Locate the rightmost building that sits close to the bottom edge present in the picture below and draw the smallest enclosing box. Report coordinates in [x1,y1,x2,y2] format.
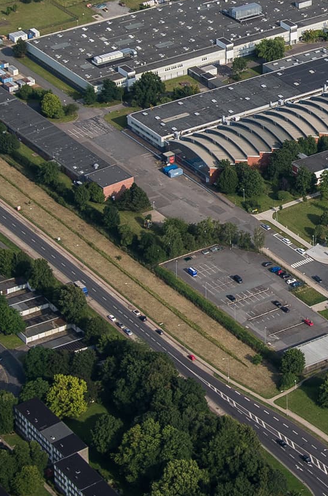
[53,455,123,496]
